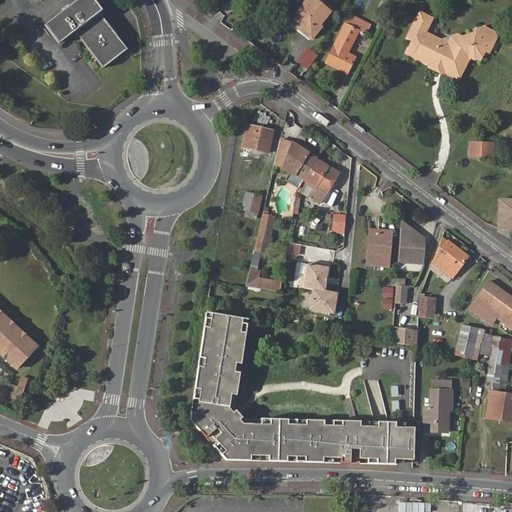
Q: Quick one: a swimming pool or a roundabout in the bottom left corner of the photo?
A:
roundabout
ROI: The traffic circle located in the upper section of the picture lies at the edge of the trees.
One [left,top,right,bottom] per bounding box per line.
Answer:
[102,94,222,214]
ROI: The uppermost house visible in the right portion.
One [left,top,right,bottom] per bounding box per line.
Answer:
[297,0,332,40]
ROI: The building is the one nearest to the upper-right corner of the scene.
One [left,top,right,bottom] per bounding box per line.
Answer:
[404,11,498,78]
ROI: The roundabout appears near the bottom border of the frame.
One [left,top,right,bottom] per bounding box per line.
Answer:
[52,416,174,512]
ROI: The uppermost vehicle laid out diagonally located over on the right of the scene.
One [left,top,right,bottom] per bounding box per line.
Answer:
[312,112,330,126]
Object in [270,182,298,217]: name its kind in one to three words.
swimming pool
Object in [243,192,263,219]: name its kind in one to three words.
shed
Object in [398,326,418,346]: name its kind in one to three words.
building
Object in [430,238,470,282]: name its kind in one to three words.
house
